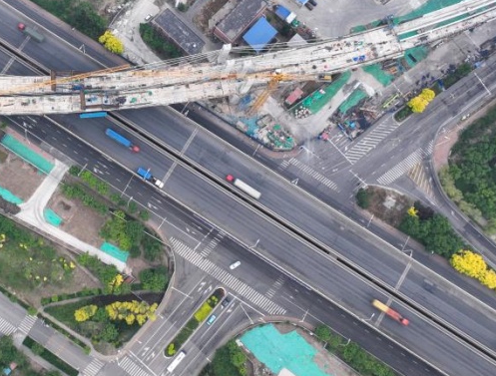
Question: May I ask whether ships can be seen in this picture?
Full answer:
No, the picture doesn't show any ship.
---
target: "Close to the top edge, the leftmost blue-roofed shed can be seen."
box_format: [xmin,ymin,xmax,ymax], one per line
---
[242,17,278,55]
